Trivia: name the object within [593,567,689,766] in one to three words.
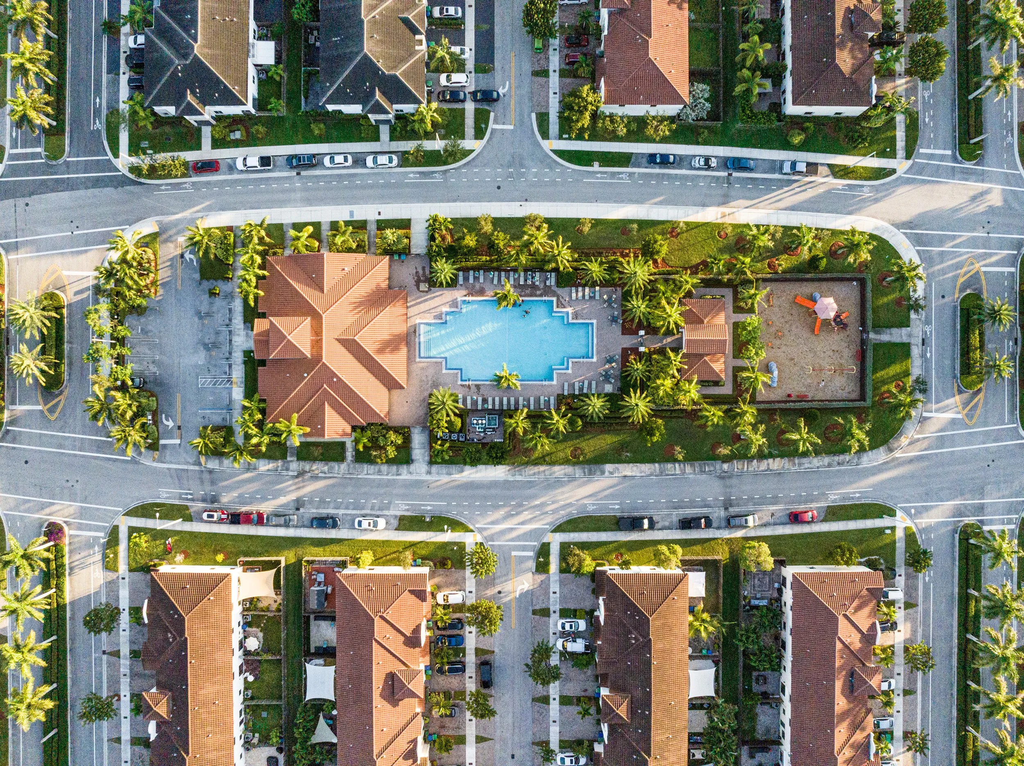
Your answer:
house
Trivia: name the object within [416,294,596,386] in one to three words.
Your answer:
swimming pool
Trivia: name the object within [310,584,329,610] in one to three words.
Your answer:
gazebo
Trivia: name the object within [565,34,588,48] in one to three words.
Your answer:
car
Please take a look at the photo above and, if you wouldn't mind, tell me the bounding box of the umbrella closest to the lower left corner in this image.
[244,637,260,652]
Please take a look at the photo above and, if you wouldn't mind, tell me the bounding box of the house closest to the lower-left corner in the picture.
[141,565,244,766]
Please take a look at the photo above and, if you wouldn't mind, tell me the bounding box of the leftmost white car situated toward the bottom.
[203,509,230,522]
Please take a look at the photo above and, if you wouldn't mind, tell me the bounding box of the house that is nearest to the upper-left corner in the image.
[144,0,260,125]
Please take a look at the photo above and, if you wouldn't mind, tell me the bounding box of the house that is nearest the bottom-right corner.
[781,566,883,766]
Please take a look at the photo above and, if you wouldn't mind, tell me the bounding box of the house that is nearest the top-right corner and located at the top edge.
[781,0,883,116]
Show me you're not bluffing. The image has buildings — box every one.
[335,567,431,766]
[595,0,689,115]
[318,0,426,123]
[141,565,244,766]
[781,566,883,766]
[593,567,689,766]
[781,0,883,116]
[144,0,260,125]
[251,249,408,438]
[680,298,731,381]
